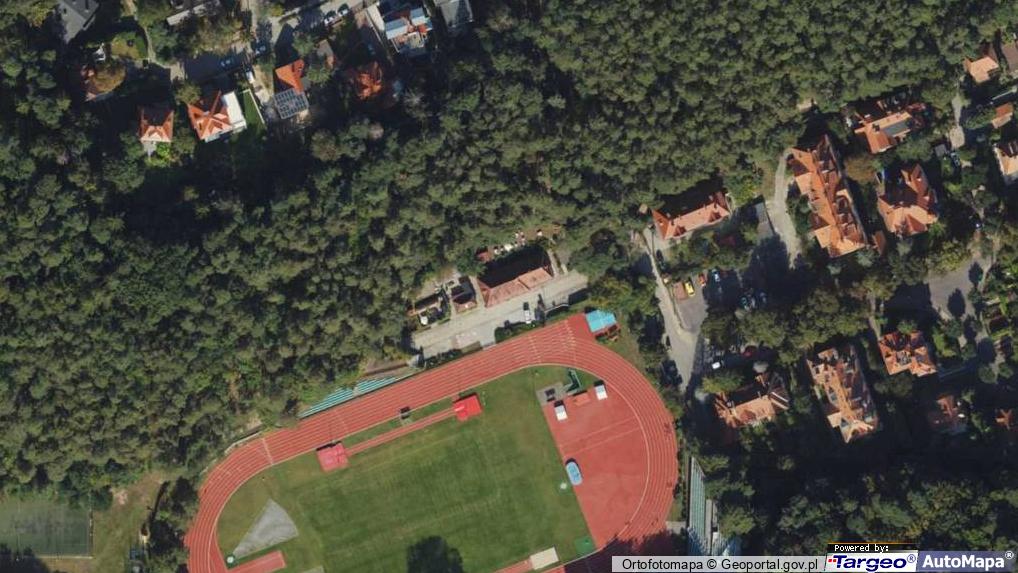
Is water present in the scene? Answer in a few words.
No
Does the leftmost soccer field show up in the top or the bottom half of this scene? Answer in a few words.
bottom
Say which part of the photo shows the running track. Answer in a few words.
bottom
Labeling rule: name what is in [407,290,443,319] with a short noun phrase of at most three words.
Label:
shed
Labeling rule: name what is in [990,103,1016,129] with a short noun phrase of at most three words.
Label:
building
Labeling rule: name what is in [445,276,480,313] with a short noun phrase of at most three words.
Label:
house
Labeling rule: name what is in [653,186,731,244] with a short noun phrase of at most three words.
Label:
house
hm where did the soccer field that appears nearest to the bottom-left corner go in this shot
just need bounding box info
[0,499,90,556]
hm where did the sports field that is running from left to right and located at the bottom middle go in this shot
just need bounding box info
[211,364,601,573]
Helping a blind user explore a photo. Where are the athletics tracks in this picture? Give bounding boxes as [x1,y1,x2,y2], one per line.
[182,312,680,573]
